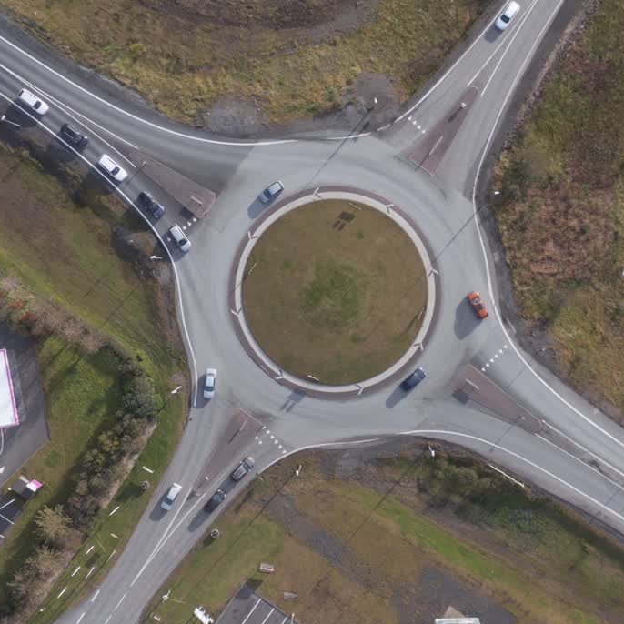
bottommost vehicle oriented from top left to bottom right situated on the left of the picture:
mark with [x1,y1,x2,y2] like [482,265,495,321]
[168,223,193,252]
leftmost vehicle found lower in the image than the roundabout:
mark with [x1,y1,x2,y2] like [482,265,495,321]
[161,480,184,510]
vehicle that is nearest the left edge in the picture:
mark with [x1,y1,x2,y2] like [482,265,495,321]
[17,88,50,115]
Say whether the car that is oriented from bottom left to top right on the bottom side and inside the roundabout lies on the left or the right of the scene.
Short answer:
right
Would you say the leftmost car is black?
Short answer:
No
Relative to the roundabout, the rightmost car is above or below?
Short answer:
above it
